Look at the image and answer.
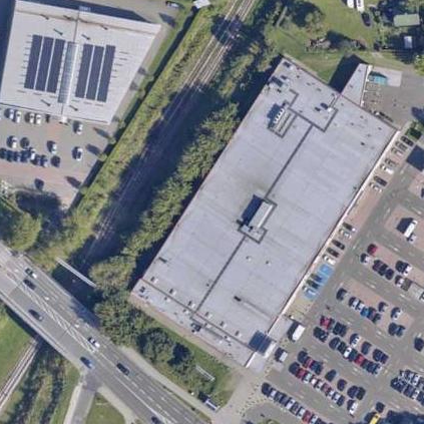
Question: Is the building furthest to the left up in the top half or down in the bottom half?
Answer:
top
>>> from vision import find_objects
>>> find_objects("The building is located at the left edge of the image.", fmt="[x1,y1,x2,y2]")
[0,0,160,124]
